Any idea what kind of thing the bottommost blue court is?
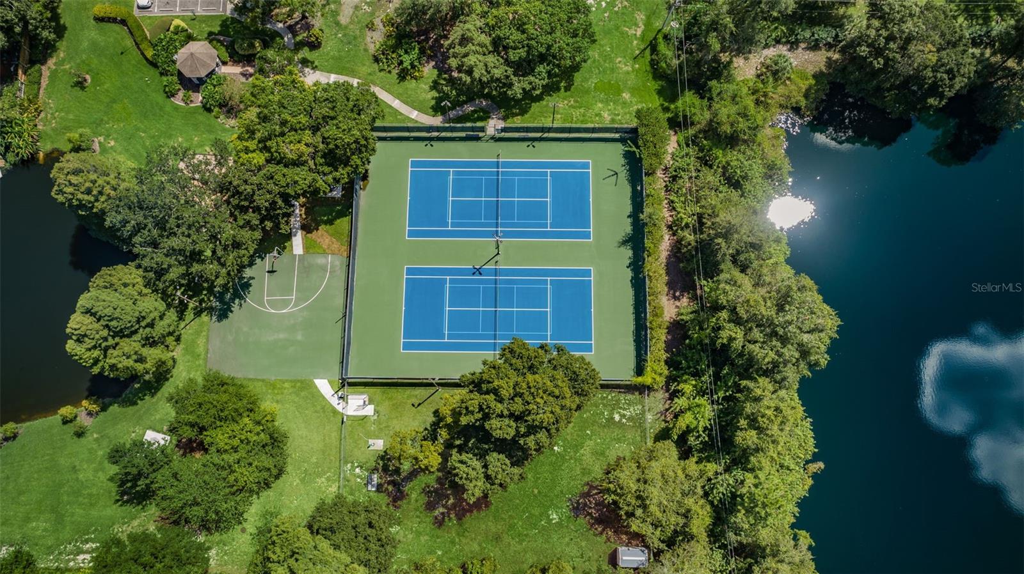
tennis court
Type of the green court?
basketball court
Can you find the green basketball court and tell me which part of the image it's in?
left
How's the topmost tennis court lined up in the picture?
from side to side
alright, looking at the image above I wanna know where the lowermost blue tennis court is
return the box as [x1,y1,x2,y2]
[402,266,593,353]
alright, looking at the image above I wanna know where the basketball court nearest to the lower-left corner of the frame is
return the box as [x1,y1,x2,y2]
[207,254,348,379]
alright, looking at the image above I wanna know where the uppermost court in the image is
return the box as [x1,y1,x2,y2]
[407,159,591,240]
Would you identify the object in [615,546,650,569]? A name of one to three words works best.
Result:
shed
